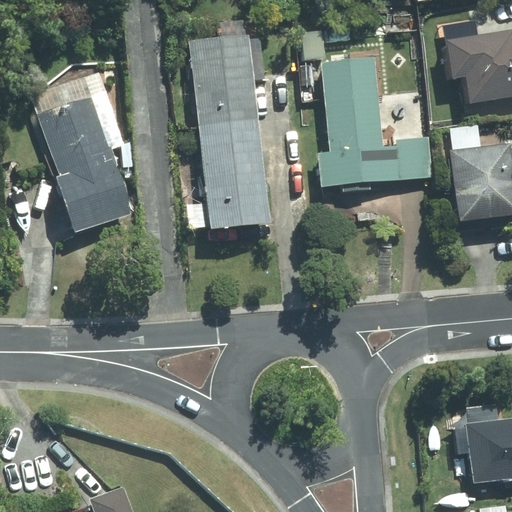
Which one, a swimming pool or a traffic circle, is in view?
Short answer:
traffic circle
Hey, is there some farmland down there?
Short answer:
No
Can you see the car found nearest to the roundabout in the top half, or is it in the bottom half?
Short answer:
bottom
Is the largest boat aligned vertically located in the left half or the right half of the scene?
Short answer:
left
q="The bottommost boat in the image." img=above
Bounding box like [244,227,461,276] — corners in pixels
[430,494,474,508]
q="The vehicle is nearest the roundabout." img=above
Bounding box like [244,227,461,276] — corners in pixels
[174,396,202,416]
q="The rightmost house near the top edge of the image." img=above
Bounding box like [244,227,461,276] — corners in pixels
[440,22,512,110]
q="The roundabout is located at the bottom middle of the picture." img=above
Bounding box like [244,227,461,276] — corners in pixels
[250,357,342,447]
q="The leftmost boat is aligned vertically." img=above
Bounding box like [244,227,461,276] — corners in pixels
[10,188,30,239]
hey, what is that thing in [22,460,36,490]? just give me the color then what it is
white car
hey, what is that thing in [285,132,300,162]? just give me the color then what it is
white car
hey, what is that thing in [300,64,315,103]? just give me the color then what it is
gray vehicle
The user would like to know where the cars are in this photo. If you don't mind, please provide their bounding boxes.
[22,460,36,490]
[1,427,24,460]
[174,396,202,416]
[285,132,300,162]
[496,242,512,255]
[46,440,73,468]
[74,466,102,494]
[496,4,512,20]
[258,223,270,245]
[35,454,53,486]
[290,164,304,192]
[4,462,22,491]
[487,334,512,348]
[256,86,268,116]
[209,228,237,242]
[274,76,288,106]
